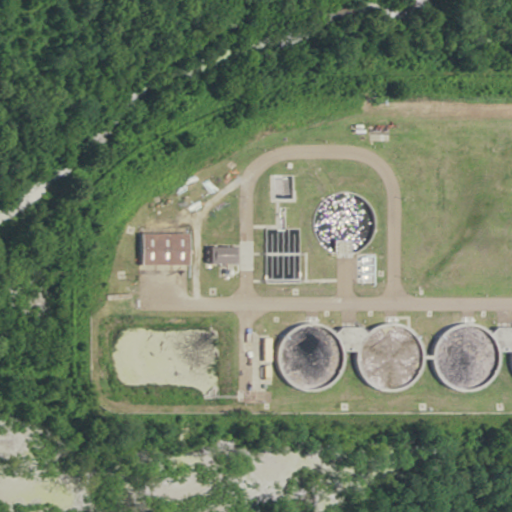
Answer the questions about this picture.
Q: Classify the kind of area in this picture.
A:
industrial area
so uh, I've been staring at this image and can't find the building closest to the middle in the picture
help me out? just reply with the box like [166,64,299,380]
[204,246,240,264]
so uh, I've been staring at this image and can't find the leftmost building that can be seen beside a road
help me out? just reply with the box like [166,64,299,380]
[143,234,191,264]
